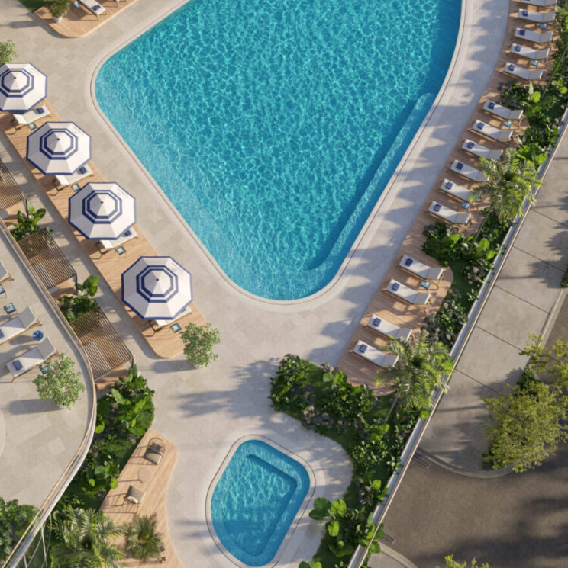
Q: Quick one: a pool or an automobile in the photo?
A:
pool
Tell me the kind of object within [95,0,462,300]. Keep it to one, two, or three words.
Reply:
swimming pool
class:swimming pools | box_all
[211,441,310,567]
[95,0,462,300]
